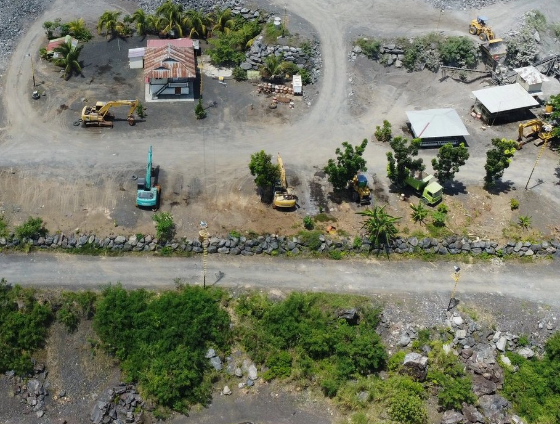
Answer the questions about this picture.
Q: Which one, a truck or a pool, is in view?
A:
truck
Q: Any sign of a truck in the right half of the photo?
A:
Yes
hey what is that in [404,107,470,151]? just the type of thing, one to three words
shed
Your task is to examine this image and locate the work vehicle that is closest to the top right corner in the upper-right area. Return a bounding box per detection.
[461,16,507,44]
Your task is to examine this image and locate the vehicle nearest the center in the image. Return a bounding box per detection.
[271,171,301,213]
